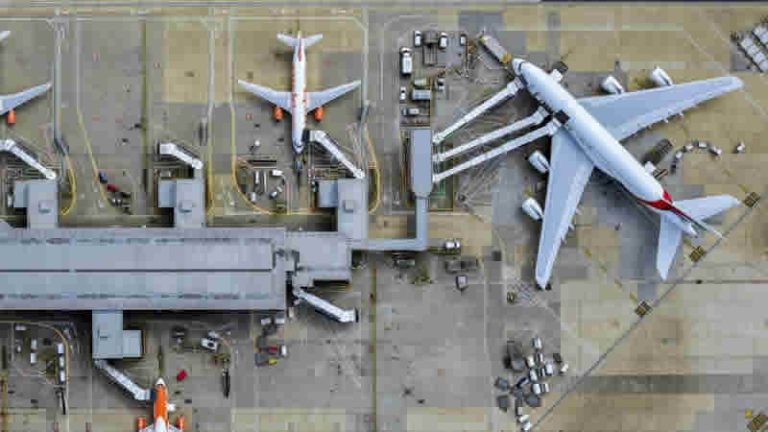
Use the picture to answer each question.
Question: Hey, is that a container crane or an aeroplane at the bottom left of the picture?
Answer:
aeroplane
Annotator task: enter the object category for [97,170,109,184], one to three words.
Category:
vehicle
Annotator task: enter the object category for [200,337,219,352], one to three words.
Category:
vehicle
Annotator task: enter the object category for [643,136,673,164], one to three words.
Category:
work vehicle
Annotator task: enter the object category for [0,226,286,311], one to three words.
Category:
building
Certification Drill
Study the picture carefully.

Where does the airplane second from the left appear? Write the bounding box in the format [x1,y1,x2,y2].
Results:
[137,377,187,432]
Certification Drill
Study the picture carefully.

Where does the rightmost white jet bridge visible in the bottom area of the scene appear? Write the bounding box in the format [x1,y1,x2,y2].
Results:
[290,282,356,320]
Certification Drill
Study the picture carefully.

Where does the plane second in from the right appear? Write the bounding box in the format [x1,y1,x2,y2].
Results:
[236,30,362,154]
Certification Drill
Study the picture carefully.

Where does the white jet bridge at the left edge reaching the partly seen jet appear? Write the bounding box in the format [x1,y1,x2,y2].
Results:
[0,137,58,179]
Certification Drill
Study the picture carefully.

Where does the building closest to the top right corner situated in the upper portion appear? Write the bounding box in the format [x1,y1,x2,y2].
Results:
[405,125,434,198]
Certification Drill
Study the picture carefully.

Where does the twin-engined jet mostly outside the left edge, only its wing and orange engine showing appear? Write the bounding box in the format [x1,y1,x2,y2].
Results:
[0,77,53,125]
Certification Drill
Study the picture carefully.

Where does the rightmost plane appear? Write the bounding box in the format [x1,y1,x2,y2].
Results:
[511,62,745,297]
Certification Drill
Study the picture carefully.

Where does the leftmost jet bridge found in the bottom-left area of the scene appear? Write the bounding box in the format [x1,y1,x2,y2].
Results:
[93,359,157,402]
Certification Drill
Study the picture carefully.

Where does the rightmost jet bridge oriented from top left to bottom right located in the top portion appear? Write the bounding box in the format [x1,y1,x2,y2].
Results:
[304,127,365,178]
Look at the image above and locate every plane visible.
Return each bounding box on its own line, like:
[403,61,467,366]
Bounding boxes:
[0,77,53,125]
[511,62,745,297]
[137,377,187,432]
[236,30,362,154]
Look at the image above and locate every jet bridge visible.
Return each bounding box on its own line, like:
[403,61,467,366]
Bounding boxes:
[304,127,365,178]
[93,359,157,402]
[157,142,206,178]
[434,111,567,184]
[434,77,524,145]
[290,282,356,320]
[0,137,58,179]
[434,107,549,164]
